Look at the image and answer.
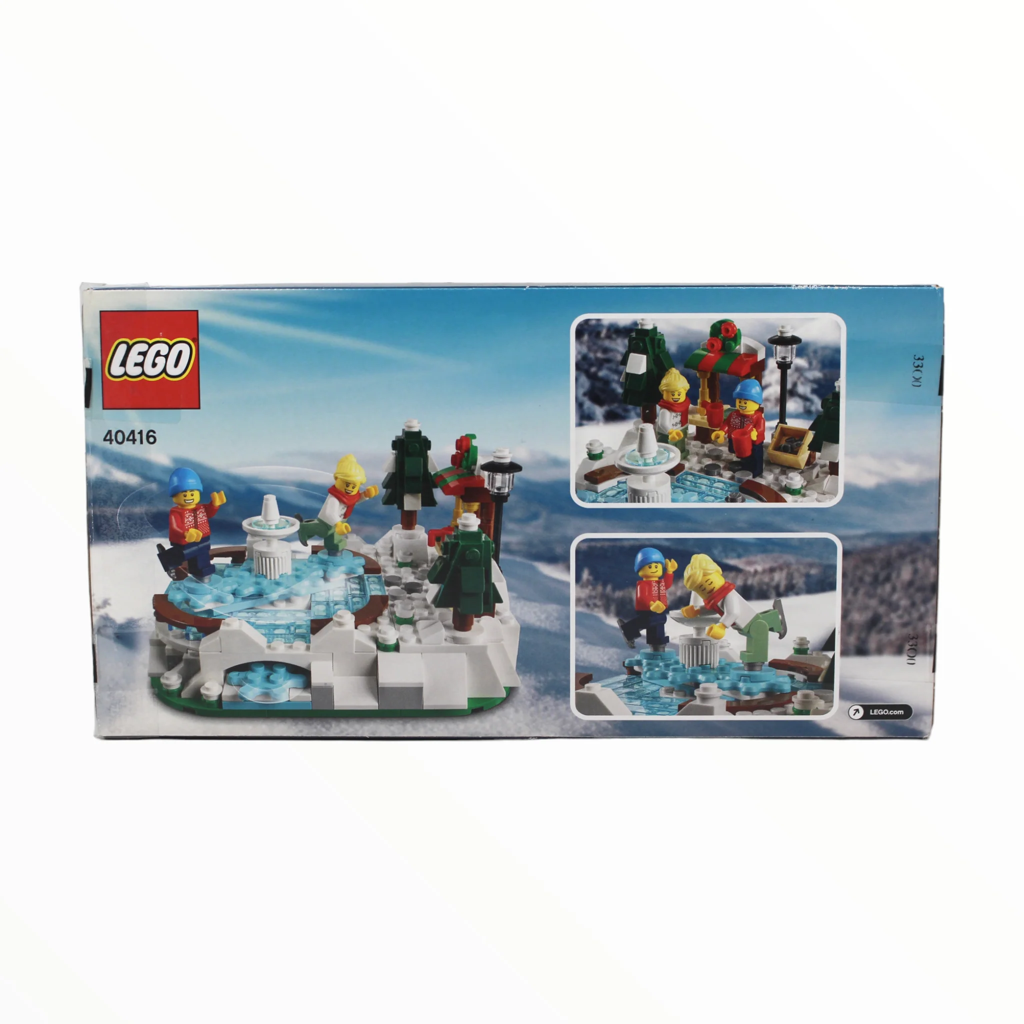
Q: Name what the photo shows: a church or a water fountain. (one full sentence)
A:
I can see a water fountain in this picture.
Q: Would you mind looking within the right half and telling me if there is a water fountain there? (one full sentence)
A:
Yes, there is a water fountain within the right half.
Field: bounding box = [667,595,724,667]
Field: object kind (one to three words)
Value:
fountain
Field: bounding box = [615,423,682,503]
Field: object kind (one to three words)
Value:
fountain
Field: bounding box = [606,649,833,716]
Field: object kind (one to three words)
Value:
pond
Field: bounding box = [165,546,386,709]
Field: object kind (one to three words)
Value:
pond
